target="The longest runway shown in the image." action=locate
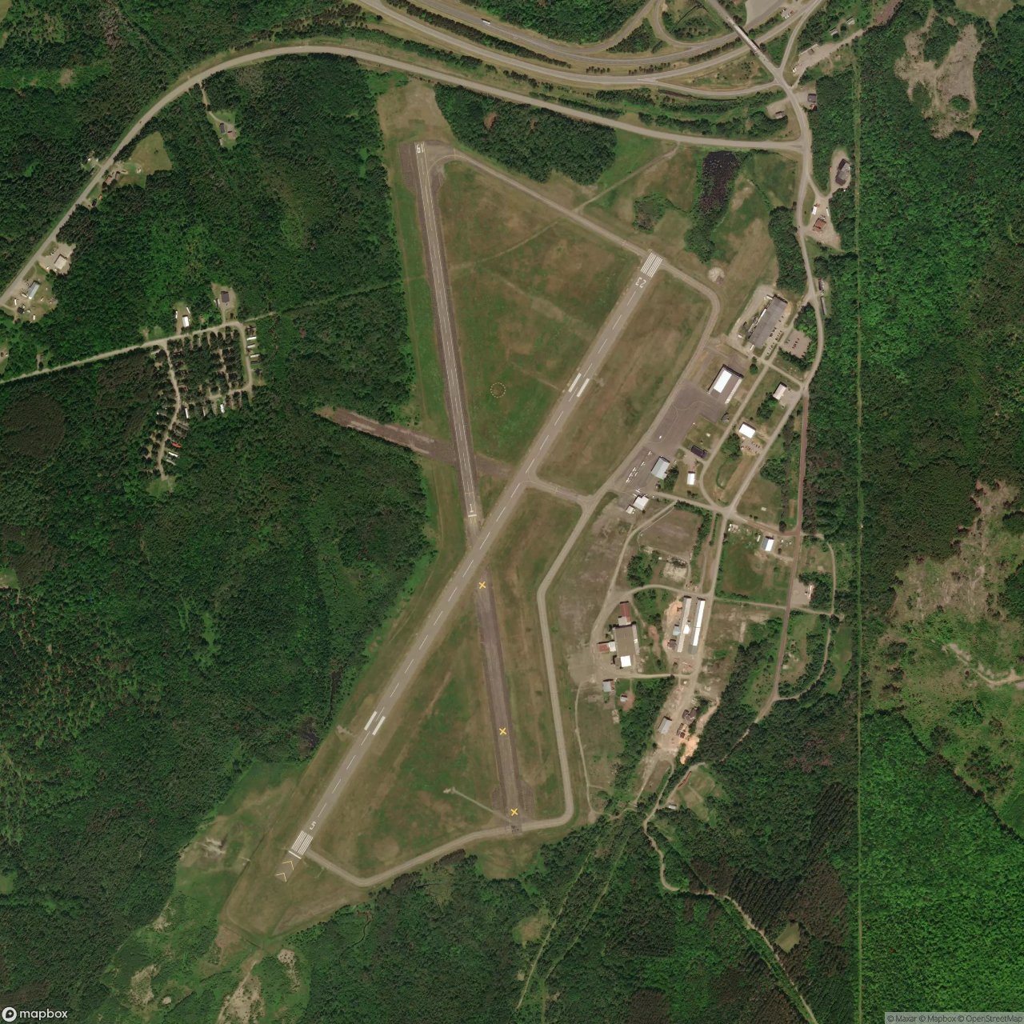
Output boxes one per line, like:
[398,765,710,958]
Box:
[272,246,668,886]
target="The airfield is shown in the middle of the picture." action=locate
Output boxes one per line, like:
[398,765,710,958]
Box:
[272,141,749,887]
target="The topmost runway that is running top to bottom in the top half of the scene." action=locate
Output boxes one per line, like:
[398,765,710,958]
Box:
[400,141,481,546]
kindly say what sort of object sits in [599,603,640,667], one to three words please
building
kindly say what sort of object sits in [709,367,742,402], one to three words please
hangar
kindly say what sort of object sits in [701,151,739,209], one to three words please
pond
